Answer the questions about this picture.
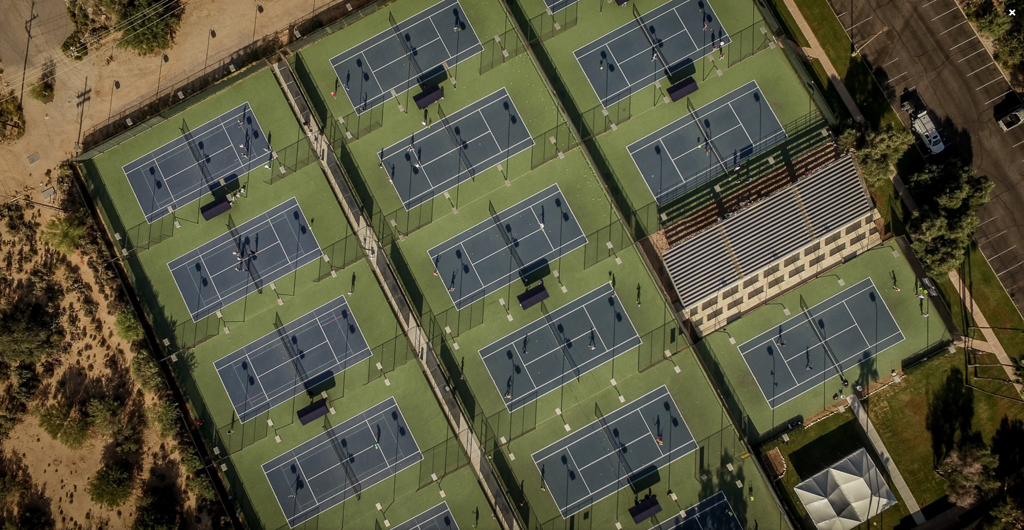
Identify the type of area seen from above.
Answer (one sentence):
The picture captures a sports ground.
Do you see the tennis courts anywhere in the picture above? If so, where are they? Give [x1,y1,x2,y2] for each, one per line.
[738,277,906,409]
[626,80,787,205]
[123,102,276,224]
[391,501,459,530]
[428,184,588,310]
[378,88,535,211]
[545,0,578,14]
[330,0,484,115]
[650,491,743,530]
[532,385,699,519]
[479,282,642,413]
[214,295,372,424]
[262,397,424,528]
[573,0,732,108]
[167,197,323,322]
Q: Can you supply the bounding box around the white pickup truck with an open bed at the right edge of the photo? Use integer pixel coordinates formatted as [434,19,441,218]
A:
[999,107,1024,130]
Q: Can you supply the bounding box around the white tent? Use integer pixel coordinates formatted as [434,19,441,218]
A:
[787,445,898,530]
